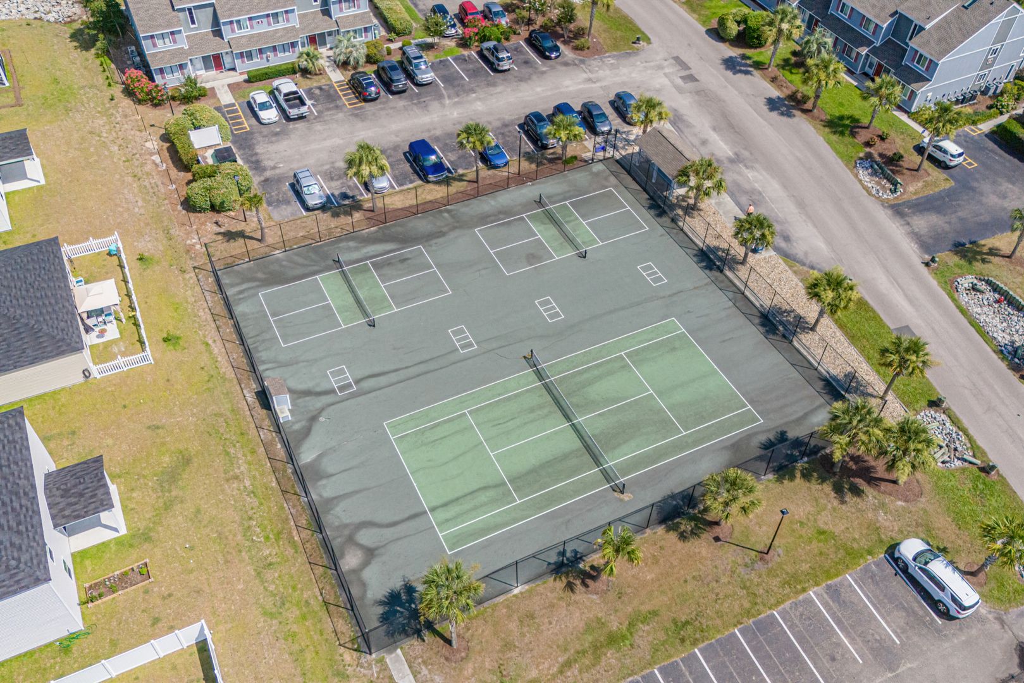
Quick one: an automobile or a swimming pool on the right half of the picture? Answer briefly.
automobile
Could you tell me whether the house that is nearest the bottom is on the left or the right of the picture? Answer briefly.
left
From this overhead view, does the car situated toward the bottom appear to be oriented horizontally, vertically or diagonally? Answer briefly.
diagonally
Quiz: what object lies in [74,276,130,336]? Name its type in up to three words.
gazebo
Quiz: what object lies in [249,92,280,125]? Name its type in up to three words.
car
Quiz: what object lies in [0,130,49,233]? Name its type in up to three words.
house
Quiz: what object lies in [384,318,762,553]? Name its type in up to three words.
tennis court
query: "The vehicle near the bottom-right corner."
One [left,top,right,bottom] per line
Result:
[891,539,982,617]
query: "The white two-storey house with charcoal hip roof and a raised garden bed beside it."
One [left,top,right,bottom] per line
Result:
[0,409,133,660]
